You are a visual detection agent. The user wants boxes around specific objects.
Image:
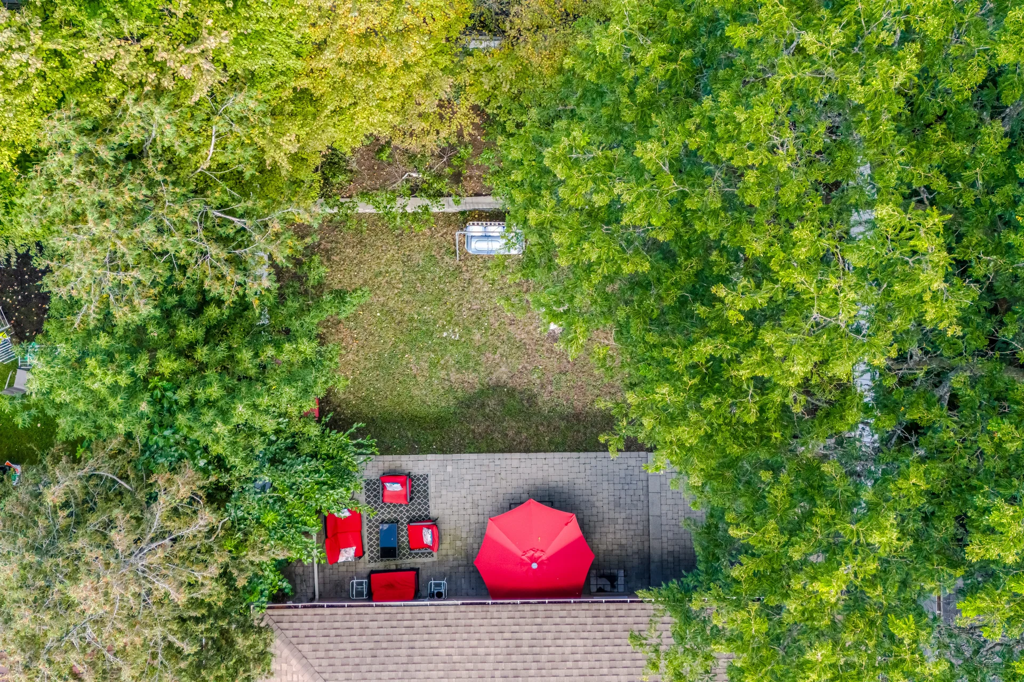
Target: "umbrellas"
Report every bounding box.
[475,499,593,602]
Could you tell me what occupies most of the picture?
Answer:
trees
